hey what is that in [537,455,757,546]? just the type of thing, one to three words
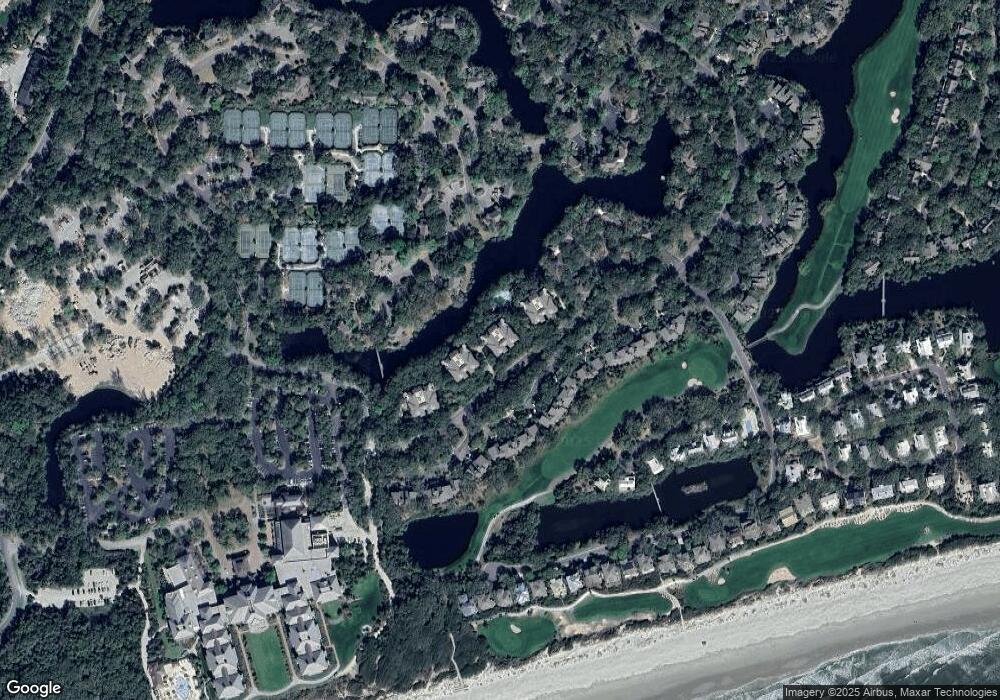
pond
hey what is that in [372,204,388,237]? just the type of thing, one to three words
tennis court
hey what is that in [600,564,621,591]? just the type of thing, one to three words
house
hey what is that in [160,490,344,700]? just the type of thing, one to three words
building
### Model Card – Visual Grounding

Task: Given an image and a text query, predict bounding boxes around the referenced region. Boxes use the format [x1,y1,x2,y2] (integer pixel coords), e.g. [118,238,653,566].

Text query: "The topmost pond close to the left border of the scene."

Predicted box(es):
[47,388,140,508]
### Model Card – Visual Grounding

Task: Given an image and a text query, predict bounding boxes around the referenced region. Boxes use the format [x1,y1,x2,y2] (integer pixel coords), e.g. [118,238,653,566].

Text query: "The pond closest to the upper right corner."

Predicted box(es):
[744,0,1000,390]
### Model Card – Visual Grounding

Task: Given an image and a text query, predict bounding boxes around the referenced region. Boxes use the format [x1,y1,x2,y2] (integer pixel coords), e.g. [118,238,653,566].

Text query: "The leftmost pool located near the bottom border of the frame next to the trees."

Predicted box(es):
[153,657,204,700]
